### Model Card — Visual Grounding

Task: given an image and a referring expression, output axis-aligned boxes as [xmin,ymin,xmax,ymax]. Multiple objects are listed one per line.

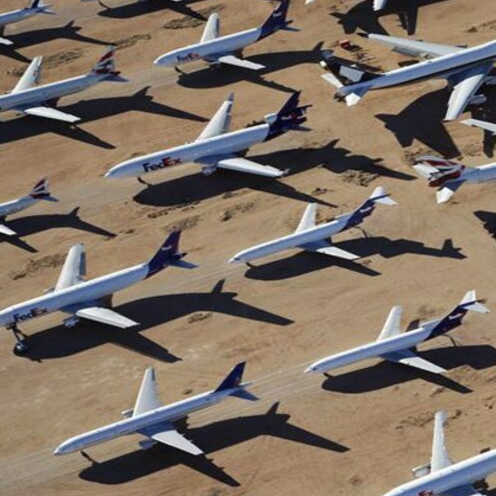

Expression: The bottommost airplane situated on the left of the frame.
[56,361,261,456]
